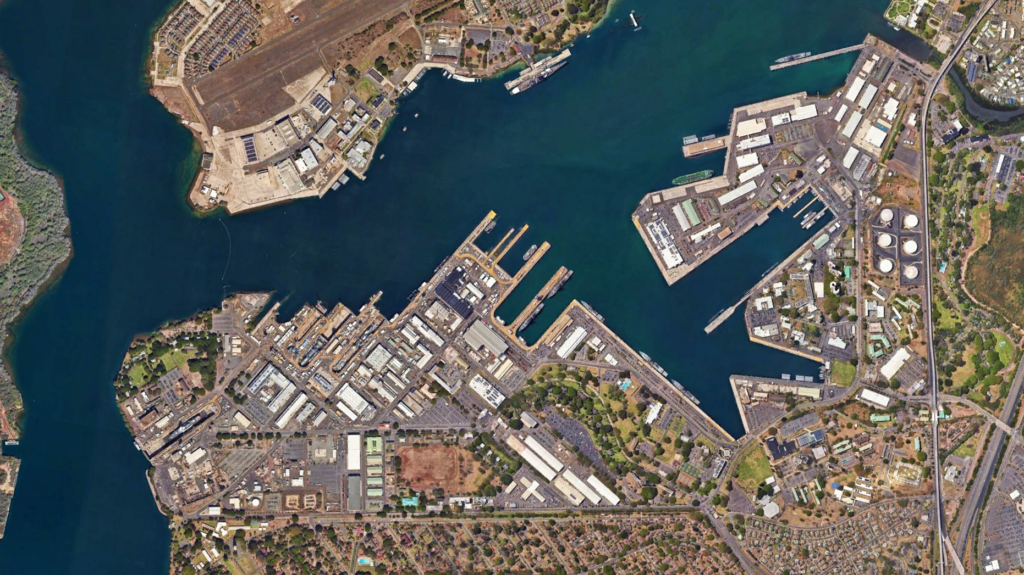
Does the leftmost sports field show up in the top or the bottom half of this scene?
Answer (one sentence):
The leftmost sports field is in the bottom half of the image.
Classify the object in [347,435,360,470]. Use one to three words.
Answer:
building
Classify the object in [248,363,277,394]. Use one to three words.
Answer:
building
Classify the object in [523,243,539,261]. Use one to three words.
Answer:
ship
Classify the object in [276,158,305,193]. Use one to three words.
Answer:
hangar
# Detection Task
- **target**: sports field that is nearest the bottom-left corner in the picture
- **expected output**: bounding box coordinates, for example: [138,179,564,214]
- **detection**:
[398,444,460,492]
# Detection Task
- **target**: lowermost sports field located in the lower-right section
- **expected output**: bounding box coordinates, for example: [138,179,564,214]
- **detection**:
[737,446,773,490]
